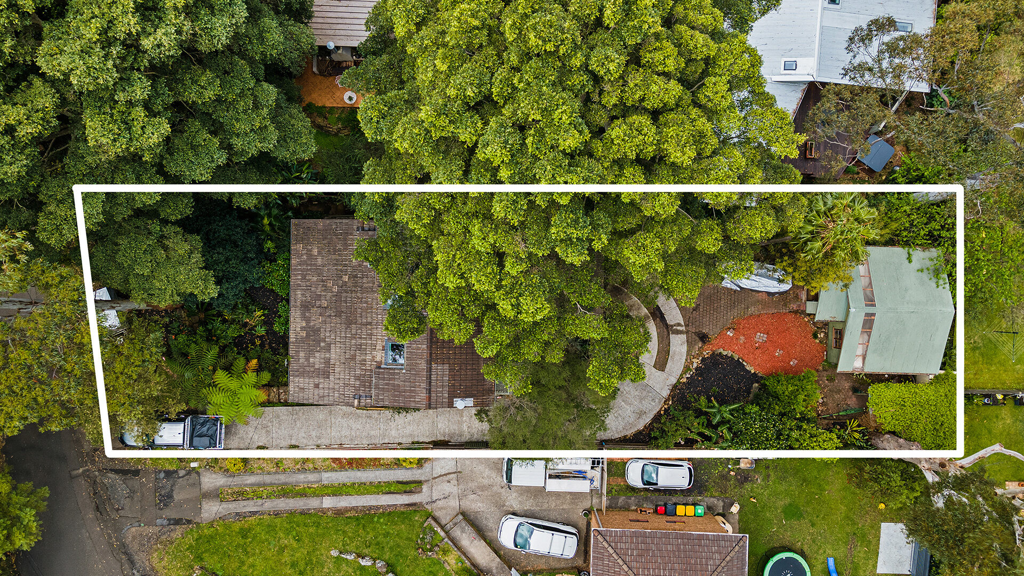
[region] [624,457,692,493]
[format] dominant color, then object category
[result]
white car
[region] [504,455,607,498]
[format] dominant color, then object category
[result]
white truck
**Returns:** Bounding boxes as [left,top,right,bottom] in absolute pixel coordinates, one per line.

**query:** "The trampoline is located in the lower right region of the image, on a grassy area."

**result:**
[758,546,811,576]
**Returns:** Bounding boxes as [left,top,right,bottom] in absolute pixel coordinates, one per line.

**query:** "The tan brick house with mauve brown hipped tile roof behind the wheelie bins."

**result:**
[589,509,750,576]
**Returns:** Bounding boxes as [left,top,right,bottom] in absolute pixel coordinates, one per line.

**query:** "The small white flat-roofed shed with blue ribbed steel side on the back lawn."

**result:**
[876,522,925,576]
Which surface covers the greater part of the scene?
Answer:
trees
